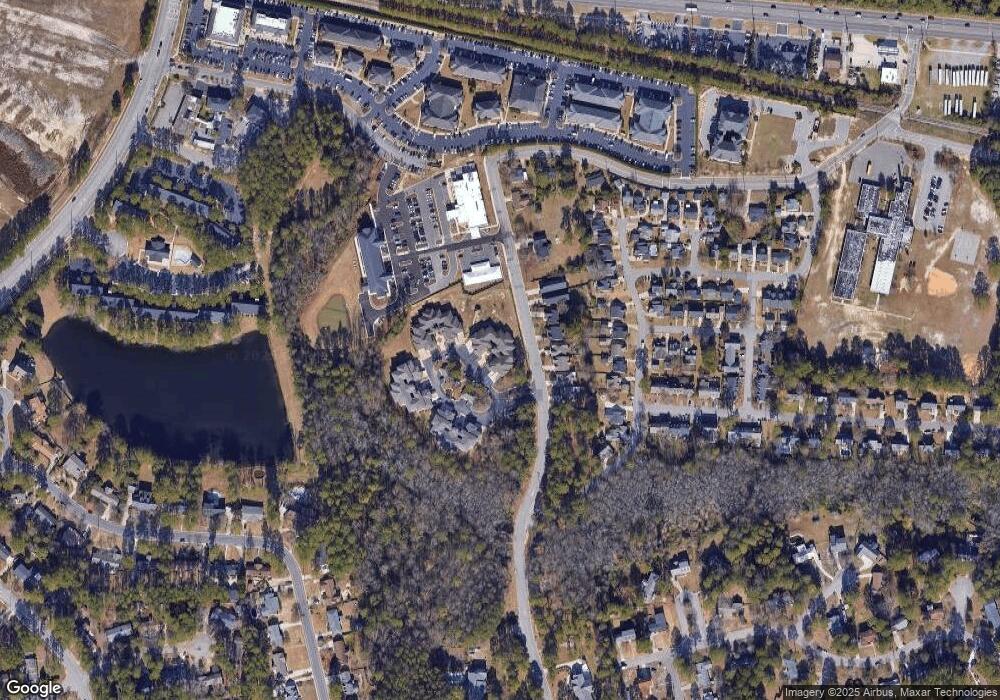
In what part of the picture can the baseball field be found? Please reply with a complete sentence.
The baseball field is located in the right region of the scene.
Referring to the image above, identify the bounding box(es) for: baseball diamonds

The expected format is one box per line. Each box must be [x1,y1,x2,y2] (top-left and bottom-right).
[926,266,957,297]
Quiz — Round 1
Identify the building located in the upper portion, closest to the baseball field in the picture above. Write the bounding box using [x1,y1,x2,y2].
[833,181,915,300]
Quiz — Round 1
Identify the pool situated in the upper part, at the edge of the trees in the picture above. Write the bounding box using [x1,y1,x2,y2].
[166,241,203,272]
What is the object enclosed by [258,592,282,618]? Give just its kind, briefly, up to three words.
house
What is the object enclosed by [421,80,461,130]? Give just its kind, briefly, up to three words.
building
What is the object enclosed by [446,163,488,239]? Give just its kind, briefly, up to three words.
building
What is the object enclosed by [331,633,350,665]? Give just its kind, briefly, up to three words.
house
